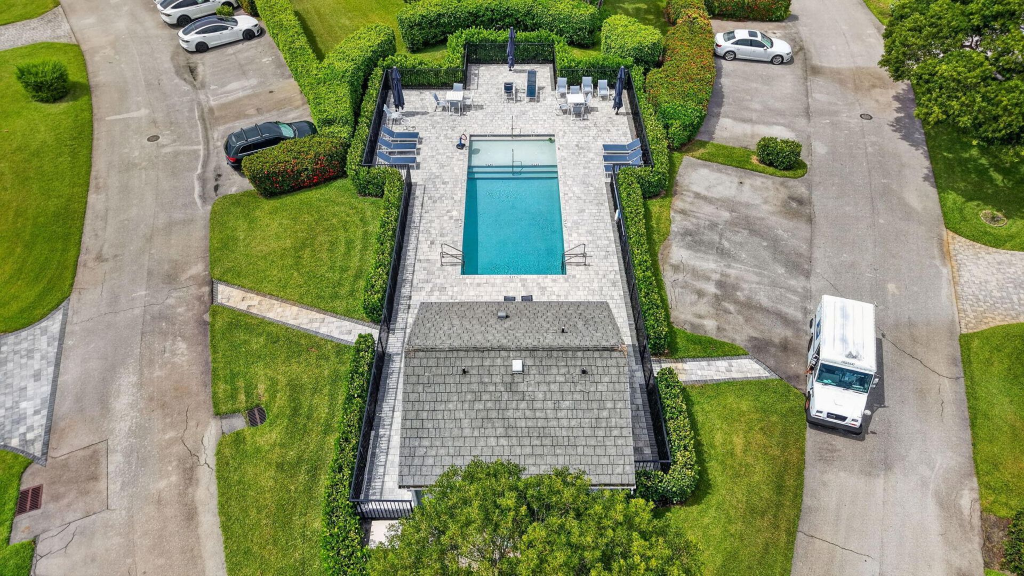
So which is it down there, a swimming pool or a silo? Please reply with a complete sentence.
Of the two, only a swimming pool appears.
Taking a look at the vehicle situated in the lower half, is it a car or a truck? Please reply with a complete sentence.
The vehicle situated in the lower half in the image is a truck.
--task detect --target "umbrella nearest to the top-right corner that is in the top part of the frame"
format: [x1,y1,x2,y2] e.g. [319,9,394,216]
[610,65,626,116]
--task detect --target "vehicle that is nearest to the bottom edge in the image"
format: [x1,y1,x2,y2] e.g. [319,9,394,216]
[799,295,883,437]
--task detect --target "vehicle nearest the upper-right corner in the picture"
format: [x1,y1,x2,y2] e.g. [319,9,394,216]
[714,29,797,65]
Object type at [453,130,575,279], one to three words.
swimming pool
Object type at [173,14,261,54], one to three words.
car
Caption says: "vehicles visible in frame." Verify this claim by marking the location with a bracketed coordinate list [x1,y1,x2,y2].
[173,14,261,54]
[225,120,326,175]
[799,295,883,437]
[714,29,797,65]
[155,0,239,27]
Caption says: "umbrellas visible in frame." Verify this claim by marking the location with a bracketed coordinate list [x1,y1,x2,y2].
[610,65,626,116]
[391,65,407,112]
[506,25,516,72]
